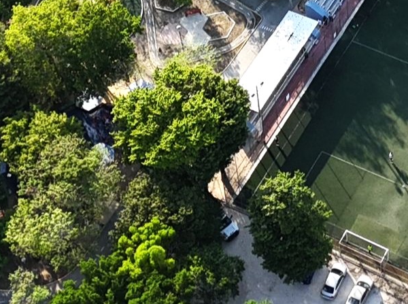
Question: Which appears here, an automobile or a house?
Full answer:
This aerial view contains an automobile.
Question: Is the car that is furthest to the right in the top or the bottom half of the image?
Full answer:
The bottom half of the photo is where the car that is furthest to the right is.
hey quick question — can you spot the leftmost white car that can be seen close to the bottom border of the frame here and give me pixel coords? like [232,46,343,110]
[318,256,351,299]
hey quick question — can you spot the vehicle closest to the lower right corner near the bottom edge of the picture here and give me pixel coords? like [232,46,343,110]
[344,270,375,304]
